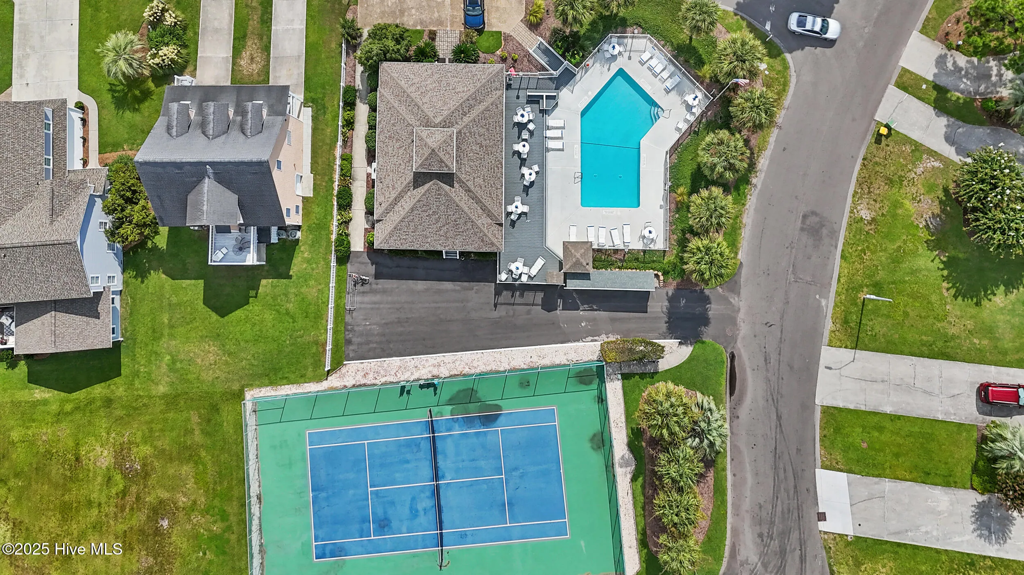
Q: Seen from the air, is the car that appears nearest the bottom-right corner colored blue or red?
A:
red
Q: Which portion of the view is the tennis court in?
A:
bottom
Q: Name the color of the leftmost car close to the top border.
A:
blue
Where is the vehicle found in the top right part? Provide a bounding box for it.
[786,14,840,42]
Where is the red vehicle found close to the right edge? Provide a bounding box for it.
[976,382,1024,409]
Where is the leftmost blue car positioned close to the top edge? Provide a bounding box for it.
[463,0,486,29]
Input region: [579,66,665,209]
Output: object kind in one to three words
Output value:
swimming pool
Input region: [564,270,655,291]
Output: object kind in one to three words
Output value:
shed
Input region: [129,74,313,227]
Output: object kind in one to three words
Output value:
house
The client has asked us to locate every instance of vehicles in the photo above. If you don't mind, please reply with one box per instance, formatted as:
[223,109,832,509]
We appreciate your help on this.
[786,14,840,42]
[976,382,1024,409]
[463,0,486,29]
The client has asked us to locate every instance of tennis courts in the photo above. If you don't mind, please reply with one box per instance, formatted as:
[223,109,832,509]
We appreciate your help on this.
[248,364,626,575]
